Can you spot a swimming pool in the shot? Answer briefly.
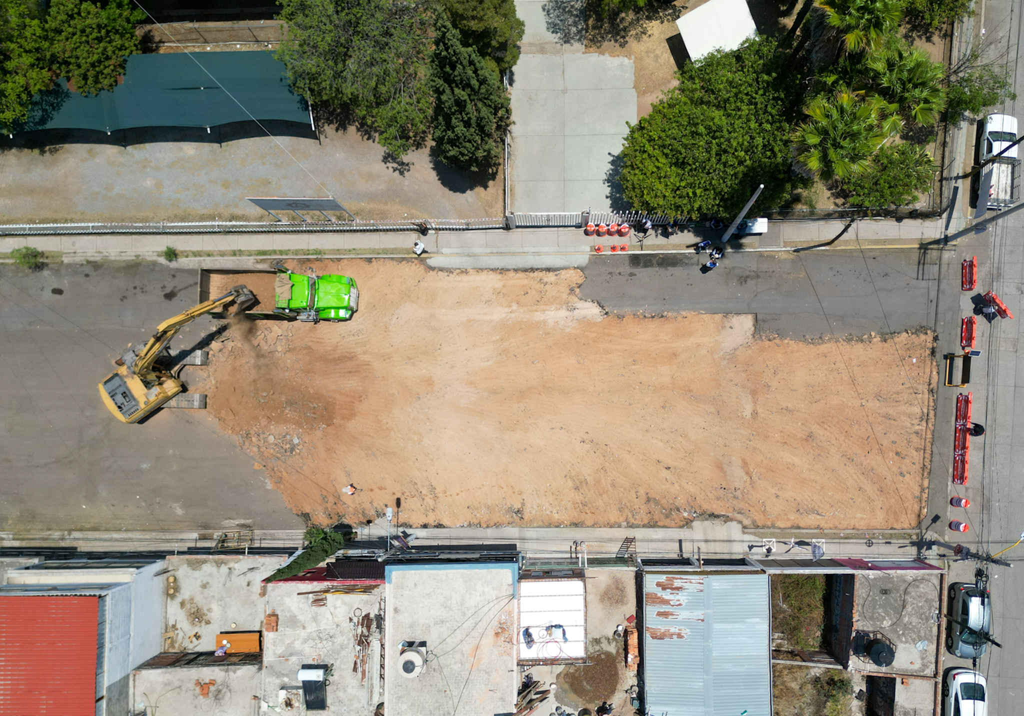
No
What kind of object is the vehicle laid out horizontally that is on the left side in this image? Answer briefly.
truck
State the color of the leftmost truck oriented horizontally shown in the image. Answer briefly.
green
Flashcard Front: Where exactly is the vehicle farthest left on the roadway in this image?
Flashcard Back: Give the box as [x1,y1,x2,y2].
[100,286,250,422]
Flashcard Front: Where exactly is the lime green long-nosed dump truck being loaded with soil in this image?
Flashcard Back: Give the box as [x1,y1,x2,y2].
[198,267,362,324]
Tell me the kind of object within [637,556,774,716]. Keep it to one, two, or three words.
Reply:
house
